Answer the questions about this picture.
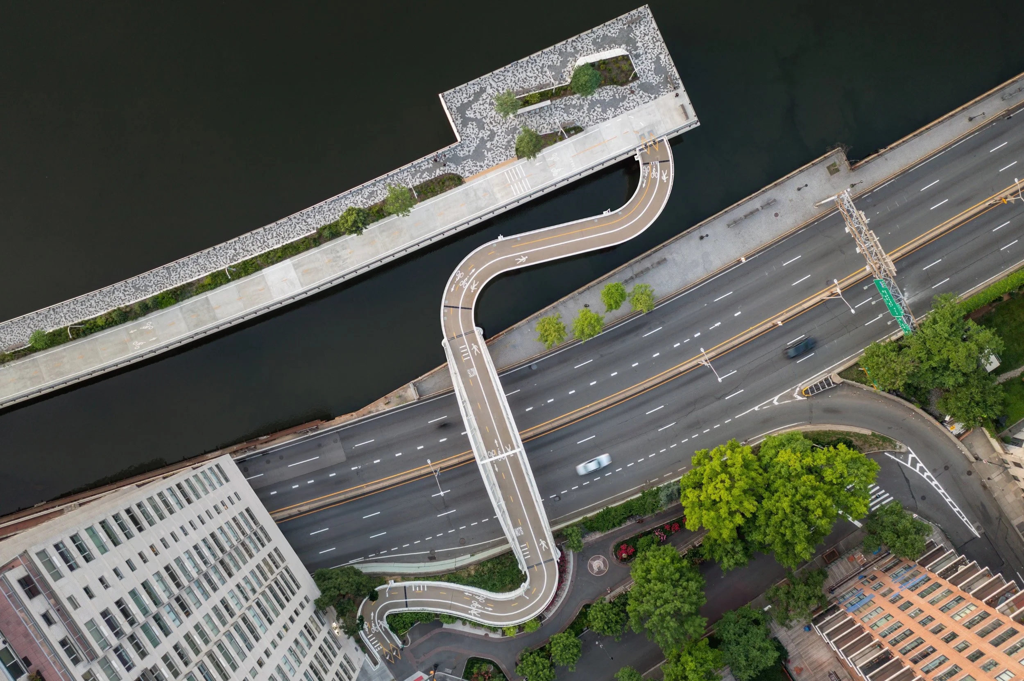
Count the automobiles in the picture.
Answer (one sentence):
Looking from above, you can make out 2 automobiles.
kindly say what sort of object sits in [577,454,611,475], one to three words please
car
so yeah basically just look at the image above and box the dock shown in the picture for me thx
[0,5,699,409]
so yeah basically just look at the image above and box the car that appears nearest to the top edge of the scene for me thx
[784,335,818,358]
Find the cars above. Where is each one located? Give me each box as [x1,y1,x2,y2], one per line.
[784,335,818,358]
[577,454,611,475]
